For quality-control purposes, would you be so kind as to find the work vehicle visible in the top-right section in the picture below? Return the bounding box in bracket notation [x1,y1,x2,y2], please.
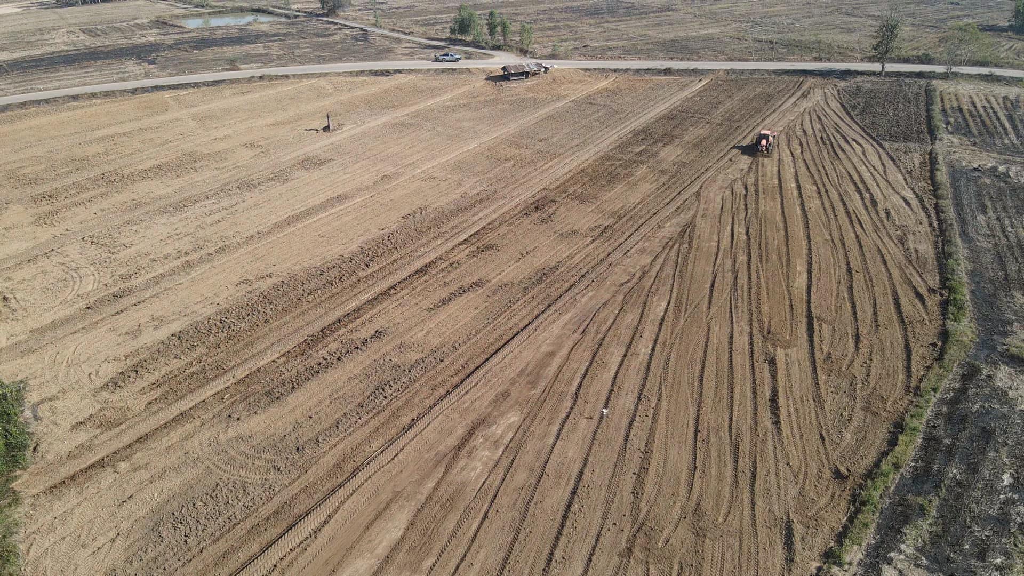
[752,128,774,155]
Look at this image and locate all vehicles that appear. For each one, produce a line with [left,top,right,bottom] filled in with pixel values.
[752,128,774,155]
[436,52,462,62]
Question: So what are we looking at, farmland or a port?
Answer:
farmland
